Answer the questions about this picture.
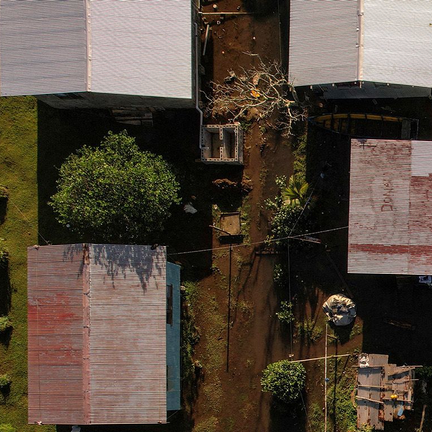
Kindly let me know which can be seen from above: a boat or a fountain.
boat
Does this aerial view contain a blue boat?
No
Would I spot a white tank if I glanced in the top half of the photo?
No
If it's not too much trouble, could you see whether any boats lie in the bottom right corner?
No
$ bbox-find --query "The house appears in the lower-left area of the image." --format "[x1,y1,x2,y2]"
[27,243,179,427]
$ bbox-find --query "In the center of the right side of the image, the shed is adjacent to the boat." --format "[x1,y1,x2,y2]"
[350,139,432,278]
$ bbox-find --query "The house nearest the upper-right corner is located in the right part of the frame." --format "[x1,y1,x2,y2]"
[289,0,432,101]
